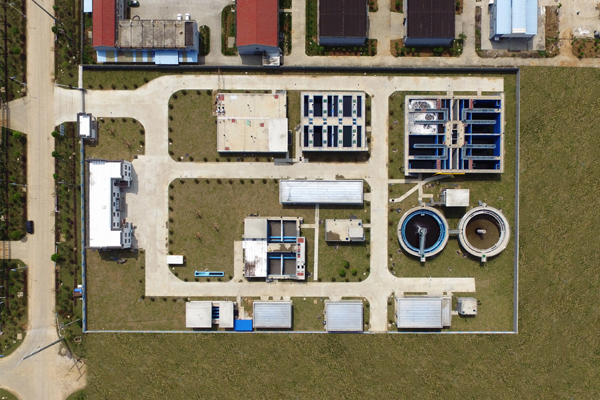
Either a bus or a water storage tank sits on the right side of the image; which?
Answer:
water storage tank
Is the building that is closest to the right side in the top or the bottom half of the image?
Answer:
top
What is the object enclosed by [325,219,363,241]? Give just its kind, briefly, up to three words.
shed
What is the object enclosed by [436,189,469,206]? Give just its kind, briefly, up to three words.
building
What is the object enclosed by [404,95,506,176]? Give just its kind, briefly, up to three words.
water tank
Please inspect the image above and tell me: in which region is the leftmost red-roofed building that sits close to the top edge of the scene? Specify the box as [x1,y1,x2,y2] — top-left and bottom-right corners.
[93,0,122,50]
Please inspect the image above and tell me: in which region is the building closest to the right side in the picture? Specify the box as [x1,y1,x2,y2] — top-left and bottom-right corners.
[490,0,537,42]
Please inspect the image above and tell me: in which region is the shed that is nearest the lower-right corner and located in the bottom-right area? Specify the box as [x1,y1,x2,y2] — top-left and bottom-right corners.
[455,297,478,315]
